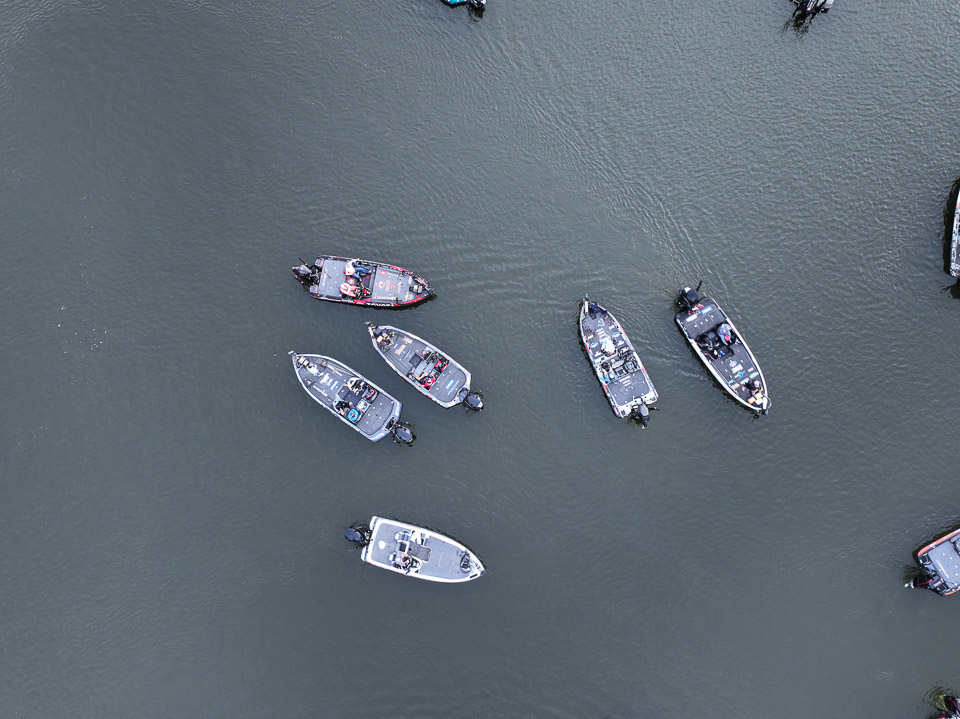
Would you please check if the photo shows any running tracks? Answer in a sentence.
No, the picture doesn't show any running track.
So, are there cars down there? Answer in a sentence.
No, there's no car here.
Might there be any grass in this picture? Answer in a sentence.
No, the scene doesn't show any grass.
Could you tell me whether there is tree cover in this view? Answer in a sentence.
No, the scene doesn't show any tree cover.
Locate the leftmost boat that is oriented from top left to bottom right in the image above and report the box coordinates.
[286,351,413,442]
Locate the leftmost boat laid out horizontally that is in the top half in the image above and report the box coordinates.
[292,255,436,307]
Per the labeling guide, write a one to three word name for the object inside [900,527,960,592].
boat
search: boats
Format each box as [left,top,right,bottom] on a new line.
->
[900,527,960,592]
[449,0,486,19]
[292,255,436,307]
[363,321,483,409]
[579,293,661,422]
[946,182,960,279]
[674,279,772,417]
[286,351,413,442]
[937,690,960,719]
[344,514,487,581]
[797,0,836,19]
